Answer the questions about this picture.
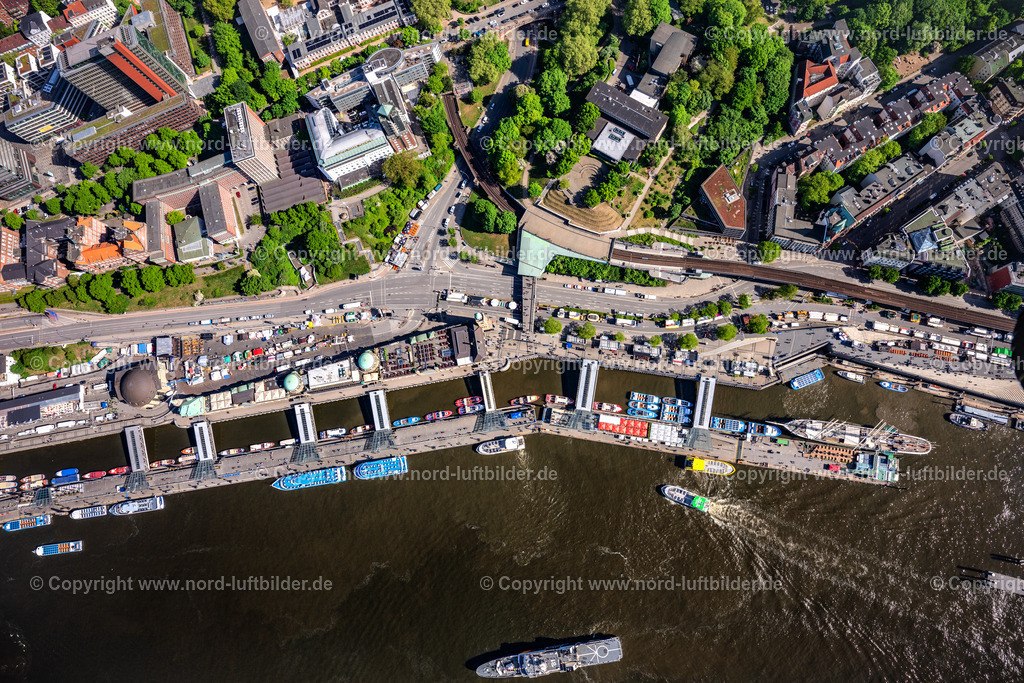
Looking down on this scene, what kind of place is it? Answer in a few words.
port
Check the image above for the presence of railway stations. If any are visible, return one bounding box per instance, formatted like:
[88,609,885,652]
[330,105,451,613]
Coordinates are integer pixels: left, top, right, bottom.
[517,205,615,277]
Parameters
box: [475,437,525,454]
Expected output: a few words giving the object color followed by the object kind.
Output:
white ship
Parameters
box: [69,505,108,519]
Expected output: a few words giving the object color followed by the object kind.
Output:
white boat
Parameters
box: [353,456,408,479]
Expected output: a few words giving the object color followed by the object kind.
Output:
blue ship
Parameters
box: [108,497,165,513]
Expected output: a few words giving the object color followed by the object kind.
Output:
white boat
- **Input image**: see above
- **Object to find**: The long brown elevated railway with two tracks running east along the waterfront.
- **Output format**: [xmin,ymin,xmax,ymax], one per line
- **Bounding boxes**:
[611,247,1024,335]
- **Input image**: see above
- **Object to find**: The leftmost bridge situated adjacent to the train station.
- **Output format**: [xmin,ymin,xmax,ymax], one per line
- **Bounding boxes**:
[439,91,518,220]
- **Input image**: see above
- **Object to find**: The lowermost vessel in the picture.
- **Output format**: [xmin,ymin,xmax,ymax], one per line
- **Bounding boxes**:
[476,640,624,678]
